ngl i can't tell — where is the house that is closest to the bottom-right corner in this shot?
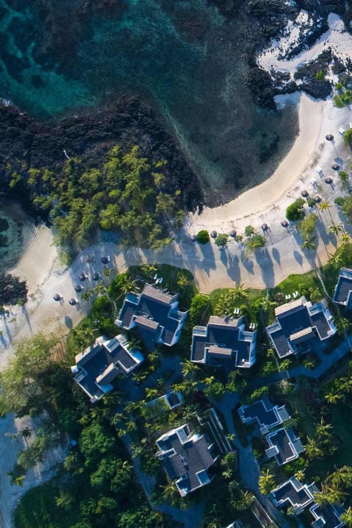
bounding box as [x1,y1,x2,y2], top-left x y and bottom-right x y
[310,496,346,528]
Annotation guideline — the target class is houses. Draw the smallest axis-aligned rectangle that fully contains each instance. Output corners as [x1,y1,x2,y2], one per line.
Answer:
[242,395,291,435]
[188,313,260,369]
[271,474,321,515]
[115,287,192,352]
[76,334,153,405]
[153,419,218,497]
[164,390,185,410]
[310,496,346,528]
[265,296,339,360]
[265,425,306,466]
